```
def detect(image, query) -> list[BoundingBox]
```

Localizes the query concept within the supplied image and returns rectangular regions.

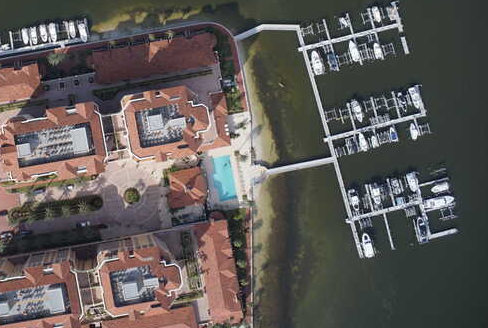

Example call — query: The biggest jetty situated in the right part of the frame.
[232,3,459,258]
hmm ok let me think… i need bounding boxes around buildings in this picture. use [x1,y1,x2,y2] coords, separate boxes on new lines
[193,218,244,324]
[169,167,209,223]
[195,91,231,155]
[99,240,182,316]
[121,82,210,158]
[2,97,108,182]
[0,244,84,328]
[94,34,220,84]
[0,64,42,102]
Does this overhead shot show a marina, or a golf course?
marina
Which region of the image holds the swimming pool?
center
